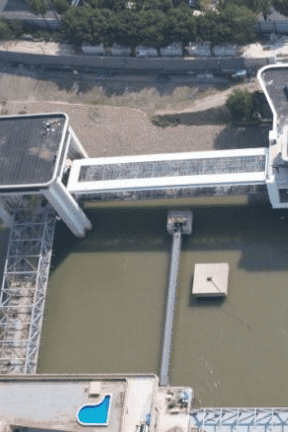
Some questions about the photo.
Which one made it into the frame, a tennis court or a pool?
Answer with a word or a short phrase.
pool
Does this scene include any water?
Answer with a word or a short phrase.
Yes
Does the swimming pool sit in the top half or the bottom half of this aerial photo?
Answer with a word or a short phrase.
bottom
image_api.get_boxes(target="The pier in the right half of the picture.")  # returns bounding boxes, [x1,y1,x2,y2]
[167,212,195,237]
